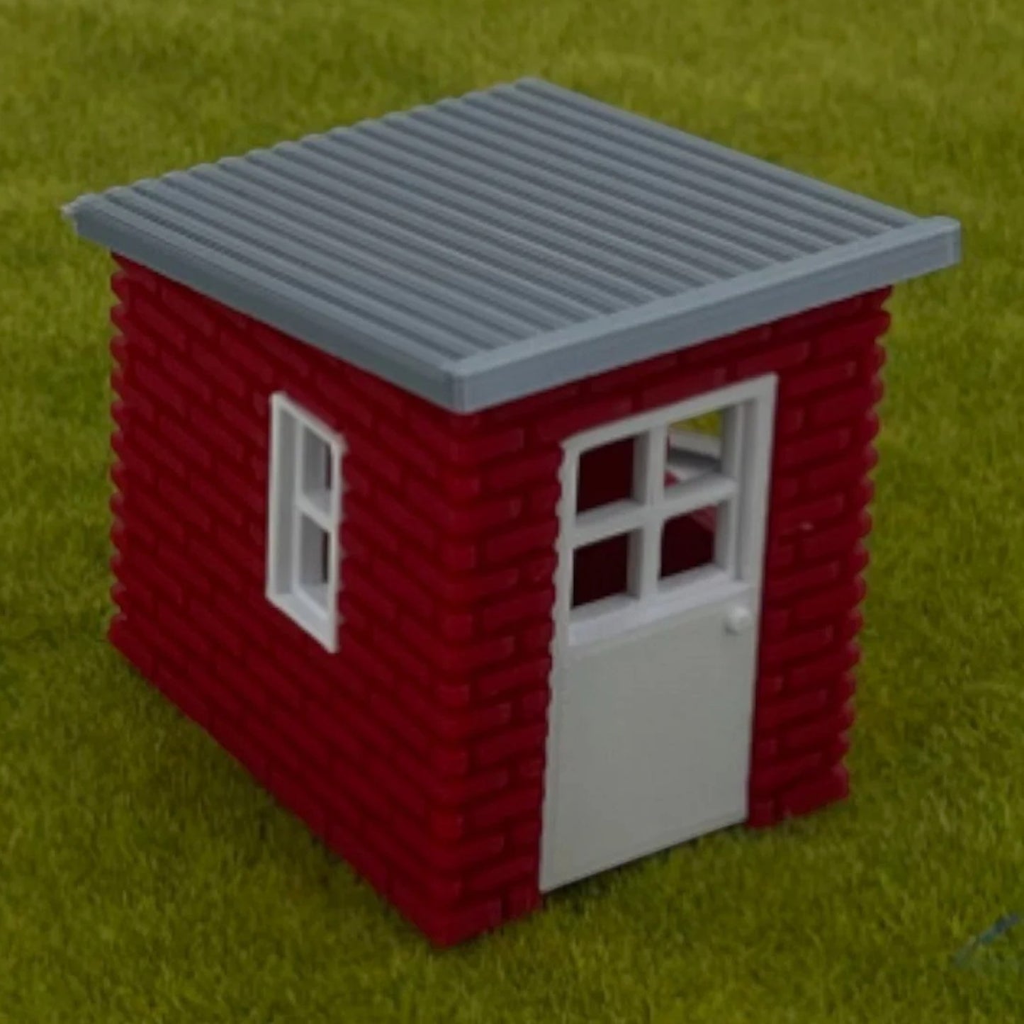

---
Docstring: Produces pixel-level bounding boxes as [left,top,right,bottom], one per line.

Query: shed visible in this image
[68,77,959,952]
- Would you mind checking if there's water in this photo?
No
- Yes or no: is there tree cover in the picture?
No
